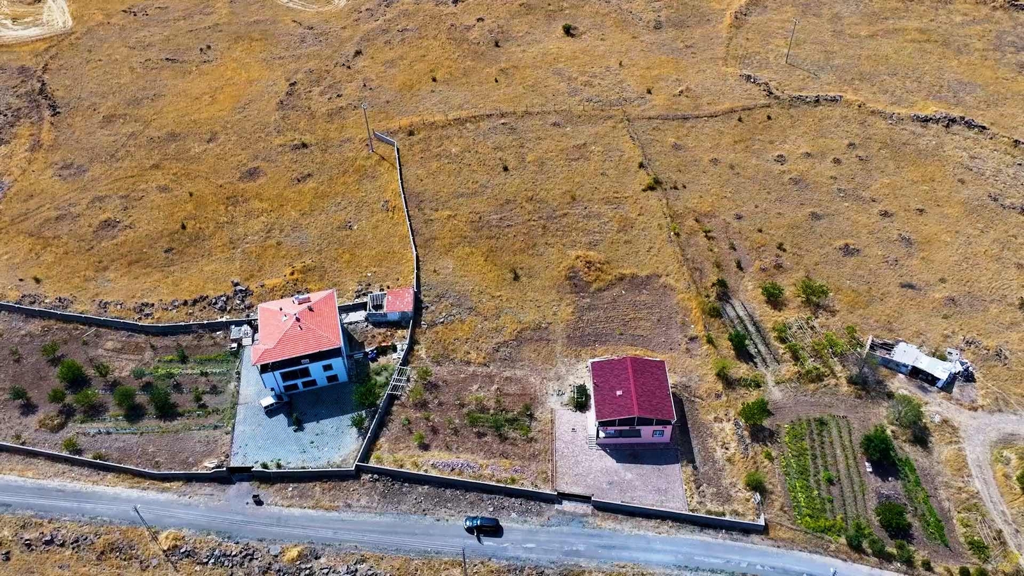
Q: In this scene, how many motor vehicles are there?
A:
2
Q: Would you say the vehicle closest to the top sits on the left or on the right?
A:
left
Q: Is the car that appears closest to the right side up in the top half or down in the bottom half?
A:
bottom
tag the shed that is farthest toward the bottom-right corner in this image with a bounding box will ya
[862,338,966,392]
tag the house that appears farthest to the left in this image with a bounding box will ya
[248,288,348,396]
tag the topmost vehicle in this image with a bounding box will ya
[258,395,291,415]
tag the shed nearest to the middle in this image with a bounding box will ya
[367,286,416,324]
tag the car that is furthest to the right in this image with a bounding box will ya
[462,517,501,544]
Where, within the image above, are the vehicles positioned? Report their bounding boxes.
[258,395,291,415]
[462,517,501,544]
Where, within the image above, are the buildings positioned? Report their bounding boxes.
[367,286,416,324]
[248,288,348,396]
[862,338,966,392]
[585,355,678,450]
